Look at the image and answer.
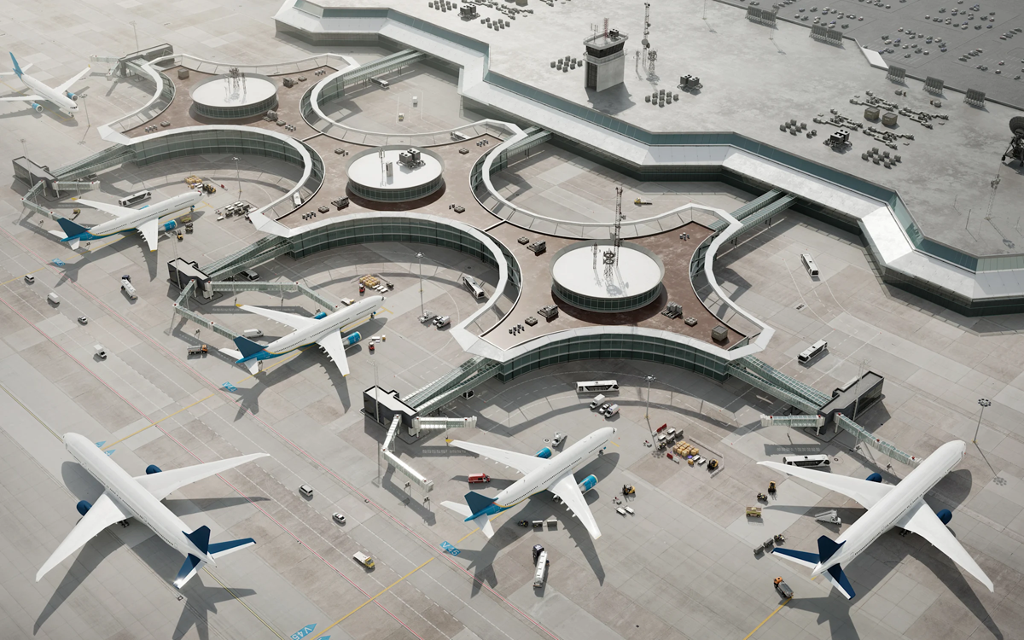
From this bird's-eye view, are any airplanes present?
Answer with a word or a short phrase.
Yes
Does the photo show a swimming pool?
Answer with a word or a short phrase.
No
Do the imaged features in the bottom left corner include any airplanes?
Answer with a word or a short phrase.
Yes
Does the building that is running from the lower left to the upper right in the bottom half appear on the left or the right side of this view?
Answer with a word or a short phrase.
right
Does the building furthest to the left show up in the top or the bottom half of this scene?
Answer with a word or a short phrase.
top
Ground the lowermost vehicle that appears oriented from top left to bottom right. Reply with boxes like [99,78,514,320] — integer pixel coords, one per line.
[771,575,796,601]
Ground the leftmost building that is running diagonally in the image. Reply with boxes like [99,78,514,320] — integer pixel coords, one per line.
[13,158,70,202]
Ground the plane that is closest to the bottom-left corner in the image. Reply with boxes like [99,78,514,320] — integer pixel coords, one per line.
[34,430,267,586]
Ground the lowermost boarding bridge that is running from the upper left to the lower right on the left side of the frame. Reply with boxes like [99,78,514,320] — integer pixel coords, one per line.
[378,414,440,498]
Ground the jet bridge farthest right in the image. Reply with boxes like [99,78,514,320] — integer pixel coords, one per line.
[836,413,928,469]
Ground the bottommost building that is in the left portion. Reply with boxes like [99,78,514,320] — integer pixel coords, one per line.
[360,386,431,444]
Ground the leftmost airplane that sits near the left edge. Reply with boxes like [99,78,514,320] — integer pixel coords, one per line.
[0,52,91,115]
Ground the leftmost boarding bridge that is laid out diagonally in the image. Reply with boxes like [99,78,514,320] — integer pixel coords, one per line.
[17,180,87,230]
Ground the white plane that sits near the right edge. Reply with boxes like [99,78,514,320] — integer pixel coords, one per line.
[757,440,991,598]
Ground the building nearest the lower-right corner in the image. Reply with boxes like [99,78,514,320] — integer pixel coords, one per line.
[804,373,886,443]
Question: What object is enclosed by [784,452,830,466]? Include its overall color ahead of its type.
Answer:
white vehicle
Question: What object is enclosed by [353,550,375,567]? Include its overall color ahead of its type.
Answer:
white vehicle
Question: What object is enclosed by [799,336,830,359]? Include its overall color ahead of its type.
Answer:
white bus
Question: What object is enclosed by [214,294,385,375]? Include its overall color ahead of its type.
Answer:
white airplane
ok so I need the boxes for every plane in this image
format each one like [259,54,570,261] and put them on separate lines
[214,294,385,375]
[757,440,991,598]
[436,425,616,537]
[42,191,202,252]
[0,52,91,115]
[34,430,267,586]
